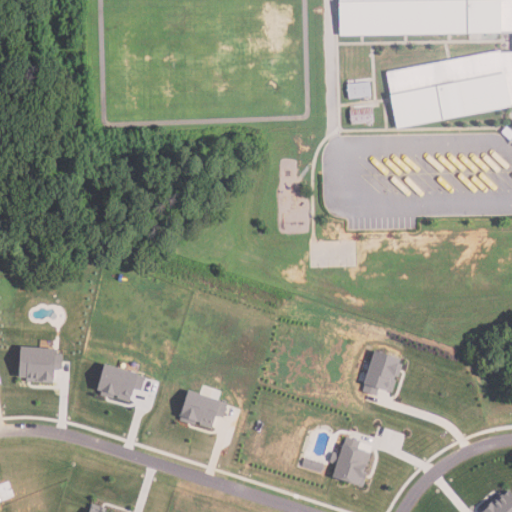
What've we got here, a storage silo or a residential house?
residential house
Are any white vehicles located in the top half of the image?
Yes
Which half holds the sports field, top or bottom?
top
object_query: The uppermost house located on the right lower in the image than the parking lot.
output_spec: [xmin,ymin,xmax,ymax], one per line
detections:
[364,350,401,394]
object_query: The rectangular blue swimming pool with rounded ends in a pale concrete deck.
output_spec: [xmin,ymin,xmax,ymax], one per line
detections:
[297,425,336,472]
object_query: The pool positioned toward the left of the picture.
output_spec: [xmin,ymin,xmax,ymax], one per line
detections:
[29,304,67,328]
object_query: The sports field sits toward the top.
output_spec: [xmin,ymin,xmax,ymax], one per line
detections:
[106,0,302,116]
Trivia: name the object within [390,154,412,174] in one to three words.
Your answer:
bus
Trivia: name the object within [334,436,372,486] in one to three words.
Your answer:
house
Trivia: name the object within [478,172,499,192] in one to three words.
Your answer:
vehicle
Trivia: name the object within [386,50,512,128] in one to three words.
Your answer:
building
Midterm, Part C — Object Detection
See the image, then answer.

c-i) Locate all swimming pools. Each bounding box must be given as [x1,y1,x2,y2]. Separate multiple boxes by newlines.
[29,304,67,328]
[297,425,336,472]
